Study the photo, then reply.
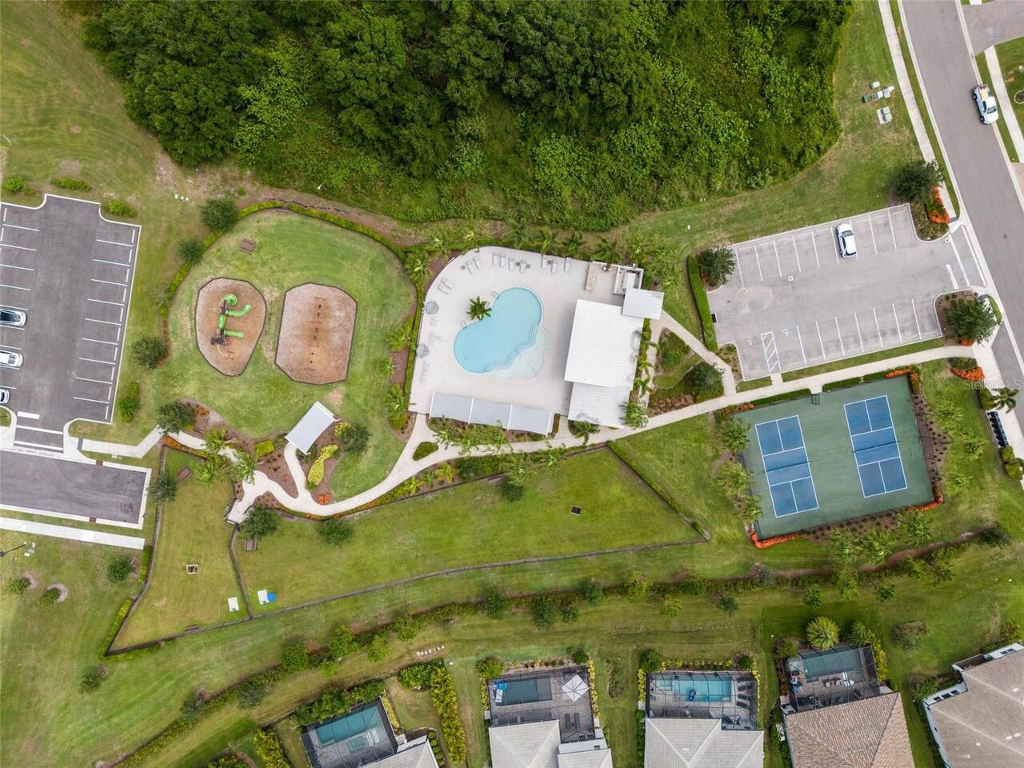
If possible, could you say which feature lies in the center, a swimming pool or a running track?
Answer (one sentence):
Visible in the center is a swimming pool.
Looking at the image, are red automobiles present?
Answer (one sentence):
No, there's no red automobile here.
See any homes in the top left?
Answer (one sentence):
No, the scene shows no home in the top left.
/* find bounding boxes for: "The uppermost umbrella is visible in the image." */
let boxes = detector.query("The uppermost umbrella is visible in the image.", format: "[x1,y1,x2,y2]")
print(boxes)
[425,300,439,314]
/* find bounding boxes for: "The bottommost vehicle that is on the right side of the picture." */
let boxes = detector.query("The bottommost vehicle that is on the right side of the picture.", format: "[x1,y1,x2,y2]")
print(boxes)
[835,222,859,258]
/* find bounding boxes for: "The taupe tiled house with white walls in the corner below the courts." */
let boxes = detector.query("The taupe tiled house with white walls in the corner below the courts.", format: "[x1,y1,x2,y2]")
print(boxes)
[920,644,1024,768]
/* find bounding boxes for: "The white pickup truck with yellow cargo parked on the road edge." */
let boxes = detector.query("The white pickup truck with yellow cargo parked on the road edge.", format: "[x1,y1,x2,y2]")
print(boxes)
[975,80,1002,123]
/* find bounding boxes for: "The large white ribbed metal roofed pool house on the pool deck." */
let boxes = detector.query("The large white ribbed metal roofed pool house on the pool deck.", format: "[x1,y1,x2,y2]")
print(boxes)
[564,286,664,428]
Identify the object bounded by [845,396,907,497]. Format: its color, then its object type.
blue sports court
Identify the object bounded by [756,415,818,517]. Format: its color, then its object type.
blue sports court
